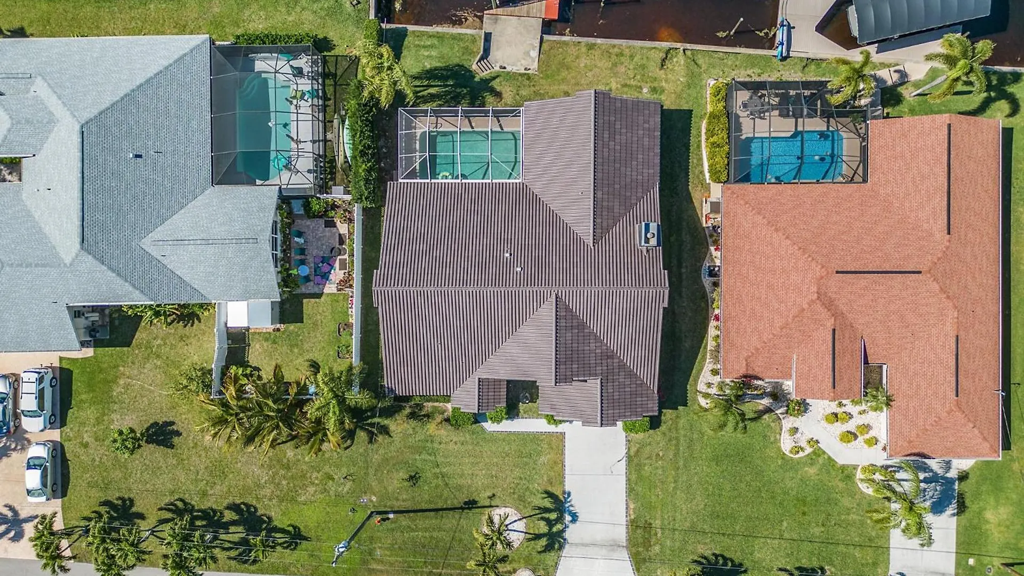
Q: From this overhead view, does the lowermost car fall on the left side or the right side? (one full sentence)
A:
The lowermost car is on the left side of the image.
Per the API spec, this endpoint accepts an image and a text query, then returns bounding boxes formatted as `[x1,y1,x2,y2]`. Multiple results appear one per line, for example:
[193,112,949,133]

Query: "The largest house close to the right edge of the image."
[717,113,1003,459]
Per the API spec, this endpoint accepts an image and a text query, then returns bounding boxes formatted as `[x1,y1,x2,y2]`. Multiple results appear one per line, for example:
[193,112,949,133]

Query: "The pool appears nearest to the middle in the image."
[414,125,521,180]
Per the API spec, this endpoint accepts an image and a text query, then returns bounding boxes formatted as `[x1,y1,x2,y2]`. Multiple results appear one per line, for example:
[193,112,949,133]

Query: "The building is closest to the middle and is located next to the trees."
[370,89,670,427]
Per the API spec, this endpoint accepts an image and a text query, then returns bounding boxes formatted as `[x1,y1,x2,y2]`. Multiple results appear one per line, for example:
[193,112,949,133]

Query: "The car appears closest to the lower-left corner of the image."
[22,439,59,505]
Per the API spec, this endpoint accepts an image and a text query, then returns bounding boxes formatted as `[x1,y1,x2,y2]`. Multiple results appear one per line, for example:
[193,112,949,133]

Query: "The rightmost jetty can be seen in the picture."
[777,0,967,65]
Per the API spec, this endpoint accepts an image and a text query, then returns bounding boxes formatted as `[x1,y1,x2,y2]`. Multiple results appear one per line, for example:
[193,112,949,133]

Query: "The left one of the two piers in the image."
[484,0,558,21]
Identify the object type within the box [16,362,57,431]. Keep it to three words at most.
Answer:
car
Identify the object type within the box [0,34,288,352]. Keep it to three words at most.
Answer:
house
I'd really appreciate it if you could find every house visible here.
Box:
[370,89,670,427]
[717,113,1003,459]
[0,34,288,352]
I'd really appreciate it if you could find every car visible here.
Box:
[22,439,59,505]
[16,362,57,431]
[0,373,14,438]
